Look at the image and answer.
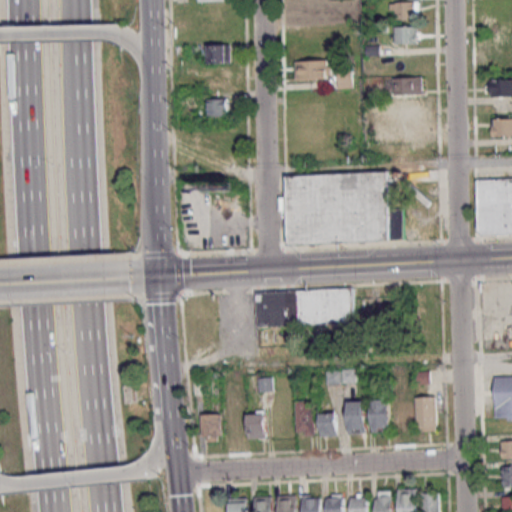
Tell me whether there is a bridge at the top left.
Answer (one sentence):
Yes, a bridge can be seen at the top left.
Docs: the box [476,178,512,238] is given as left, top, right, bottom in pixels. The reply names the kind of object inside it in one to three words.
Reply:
building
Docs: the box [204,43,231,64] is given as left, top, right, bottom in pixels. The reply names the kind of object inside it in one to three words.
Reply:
house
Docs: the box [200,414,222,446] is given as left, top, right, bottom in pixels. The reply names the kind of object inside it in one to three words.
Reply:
house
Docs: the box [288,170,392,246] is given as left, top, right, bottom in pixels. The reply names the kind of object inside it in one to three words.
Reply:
building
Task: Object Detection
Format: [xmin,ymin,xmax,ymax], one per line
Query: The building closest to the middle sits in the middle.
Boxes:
[256,290,298,328]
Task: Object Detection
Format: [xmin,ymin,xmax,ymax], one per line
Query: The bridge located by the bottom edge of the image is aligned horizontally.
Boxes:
[0,417,167,494]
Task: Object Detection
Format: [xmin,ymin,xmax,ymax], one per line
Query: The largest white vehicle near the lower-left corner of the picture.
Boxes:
[26,392,41,452]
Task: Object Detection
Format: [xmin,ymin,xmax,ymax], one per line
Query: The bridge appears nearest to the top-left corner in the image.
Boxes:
[0,24,142,70]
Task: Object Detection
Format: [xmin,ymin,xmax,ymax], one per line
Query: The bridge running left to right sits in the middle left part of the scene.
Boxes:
[0,252,147,306]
